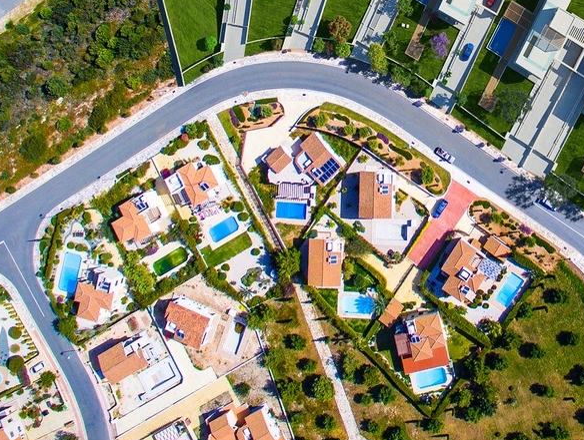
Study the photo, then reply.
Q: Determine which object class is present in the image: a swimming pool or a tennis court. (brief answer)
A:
swimming pool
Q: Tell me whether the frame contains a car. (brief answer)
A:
Yes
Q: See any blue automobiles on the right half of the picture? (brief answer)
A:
Yes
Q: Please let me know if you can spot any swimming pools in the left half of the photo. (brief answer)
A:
Yes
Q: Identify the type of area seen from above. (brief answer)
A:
residential area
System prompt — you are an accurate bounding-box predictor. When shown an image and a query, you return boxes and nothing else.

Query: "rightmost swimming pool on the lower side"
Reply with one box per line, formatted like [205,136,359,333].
[492,270,527,311]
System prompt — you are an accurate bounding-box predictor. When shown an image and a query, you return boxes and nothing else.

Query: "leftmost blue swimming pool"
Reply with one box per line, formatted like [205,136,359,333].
[56,250,83,295]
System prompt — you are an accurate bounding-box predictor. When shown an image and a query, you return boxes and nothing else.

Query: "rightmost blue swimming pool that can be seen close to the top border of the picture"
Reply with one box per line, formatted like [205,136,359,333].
[485,16,519,56]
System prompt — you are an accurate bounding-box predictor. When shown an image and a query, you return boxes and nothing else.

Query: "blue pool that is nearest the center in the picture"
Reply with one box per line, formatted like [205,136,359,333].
[274,200,308,221]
